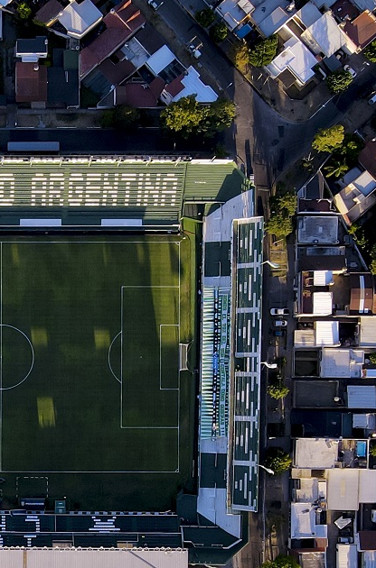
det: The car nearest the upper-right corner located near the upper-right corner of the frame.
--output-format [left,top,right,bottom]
[343,65,356,78]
